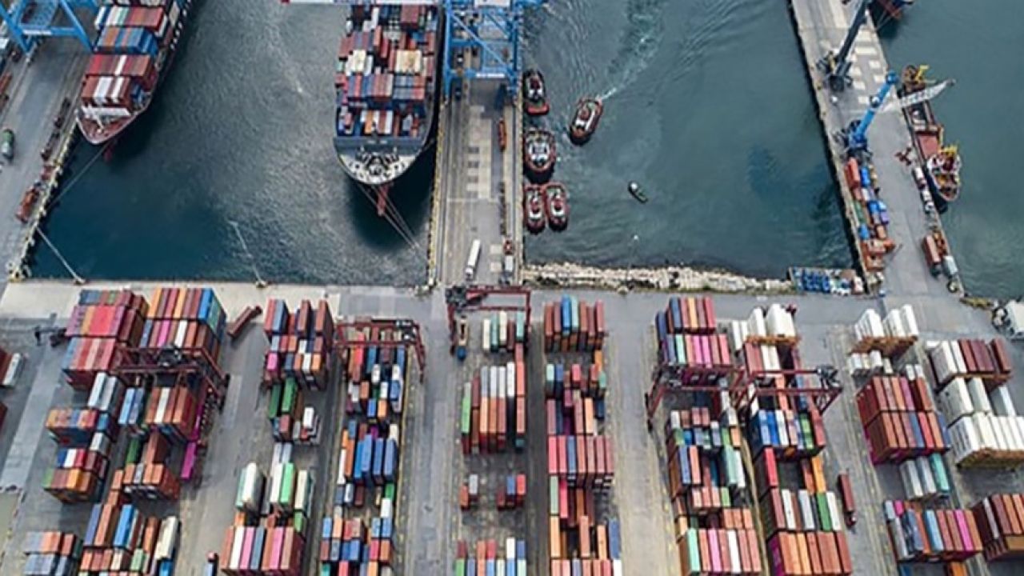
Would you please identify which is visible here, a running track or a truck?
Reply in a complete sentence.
Visible in the photo is a truck.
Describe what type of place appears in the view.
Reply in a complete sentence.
The picture captures a port.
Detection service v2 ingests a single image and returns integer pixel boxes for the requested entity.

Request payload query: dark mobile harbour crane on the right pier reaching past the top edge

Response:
[818,0,877,95]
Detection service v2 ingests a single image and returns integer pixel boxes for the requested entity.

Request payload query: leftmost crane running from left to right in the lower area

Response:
[109,344,230,409]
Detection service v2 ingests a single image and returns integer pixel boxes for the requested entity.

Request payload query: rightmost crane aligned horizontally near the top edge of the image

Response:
[270,0,544,104]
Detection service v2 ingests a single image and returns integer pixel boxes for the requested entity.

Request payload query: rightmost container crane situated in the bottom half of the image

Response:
[734,363,843,428]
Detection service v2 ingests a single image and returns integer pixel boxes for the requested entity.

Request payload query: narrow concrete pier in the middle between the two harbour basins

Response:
[426,4,526,287]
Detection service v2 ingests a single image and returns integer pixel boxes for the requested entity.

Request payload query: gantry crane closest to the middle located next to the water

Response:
[451,285,535,350]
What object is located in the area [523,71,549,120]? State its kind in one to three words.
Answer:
boat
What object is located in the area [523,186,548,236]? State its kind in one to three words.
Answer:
boat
